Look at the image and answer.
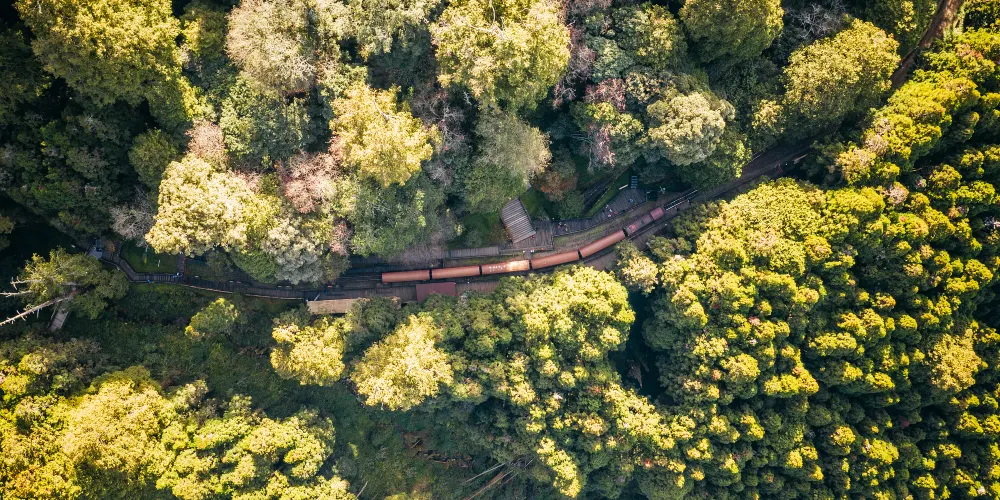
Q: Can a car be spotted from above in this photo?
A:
No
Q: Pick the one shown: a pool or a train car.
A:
train car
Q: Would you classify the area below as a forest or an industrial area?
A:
forest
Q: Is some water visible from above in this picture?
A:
No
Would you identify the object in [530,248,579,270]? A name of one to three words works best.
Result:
rail car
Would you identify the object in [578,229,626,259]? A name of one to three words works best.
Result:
rail car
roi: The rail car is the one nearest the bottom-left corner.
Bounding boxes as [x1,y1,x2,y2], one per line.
[383,267,432,282]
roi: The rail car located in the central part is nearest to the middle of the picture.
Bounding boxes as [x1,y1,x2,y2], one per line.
[481,258,529,275]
